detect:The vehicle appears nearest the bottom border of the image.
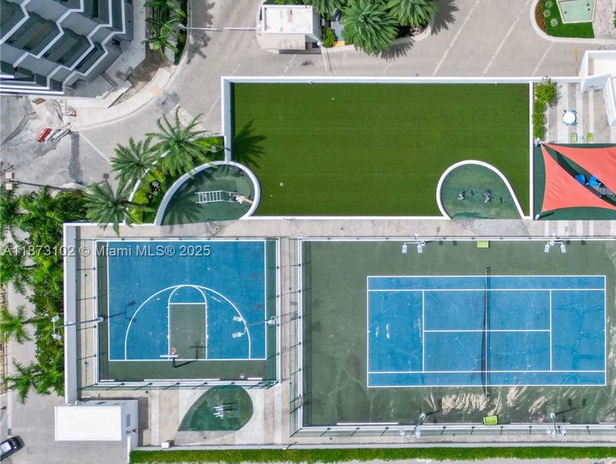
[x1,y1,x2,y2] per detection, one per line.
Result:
[0,434,25,461]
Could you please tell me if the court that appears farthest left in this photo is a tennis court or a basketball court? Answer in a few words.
basketball court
